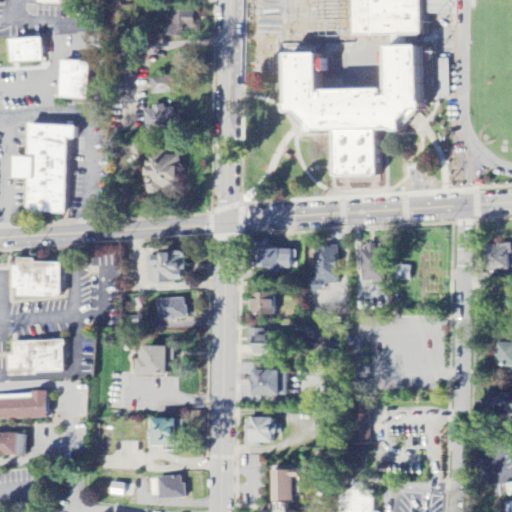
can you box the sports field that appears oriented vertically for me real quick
[473,0,512,159]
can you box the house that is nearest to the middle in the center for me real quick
[258,246,299,270]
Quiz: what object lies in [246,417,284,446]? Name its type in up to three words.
house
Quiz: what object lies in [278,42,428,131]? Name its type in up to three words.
building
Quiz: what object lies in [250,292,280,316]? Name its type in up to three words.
house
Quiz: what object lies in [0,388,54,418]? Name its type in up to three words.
building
